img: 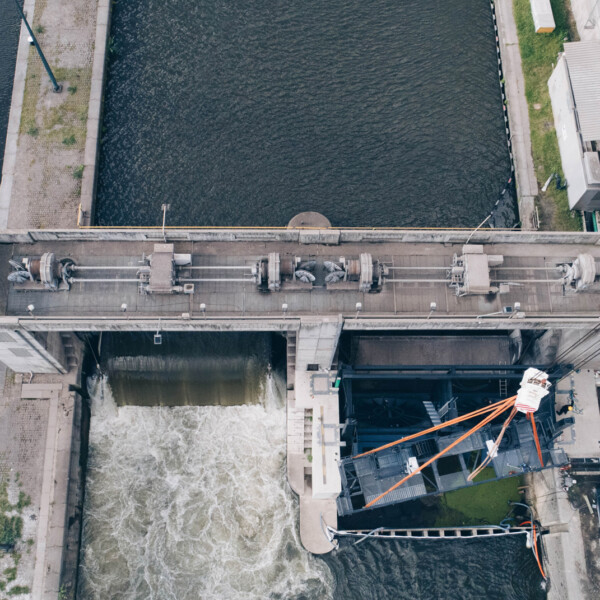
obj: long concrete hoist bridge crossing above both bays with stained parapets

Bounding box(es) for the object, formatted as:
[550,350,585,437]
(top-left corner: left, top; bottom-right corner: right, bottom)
[0,225,600,371]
